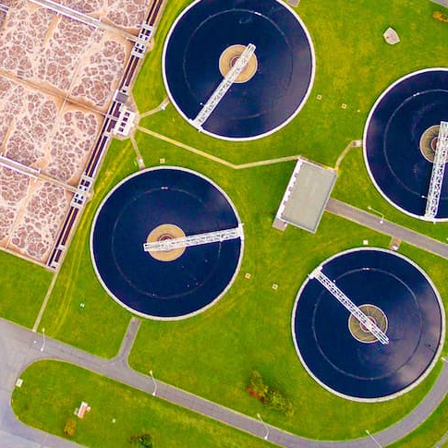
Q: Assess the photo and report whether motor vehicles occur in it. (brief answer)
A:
No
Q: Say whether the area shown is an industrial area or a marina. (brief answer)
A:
industrial area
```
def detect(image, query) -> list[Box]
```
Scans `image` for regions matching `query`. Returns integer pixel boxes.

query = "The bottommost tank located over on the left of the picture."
[89,165,244,320]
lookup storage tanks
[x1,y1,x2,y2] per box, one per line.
[89,165,244,320]
[290,247,446,402]
[161,0,316,141]
[361,69,448,222]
